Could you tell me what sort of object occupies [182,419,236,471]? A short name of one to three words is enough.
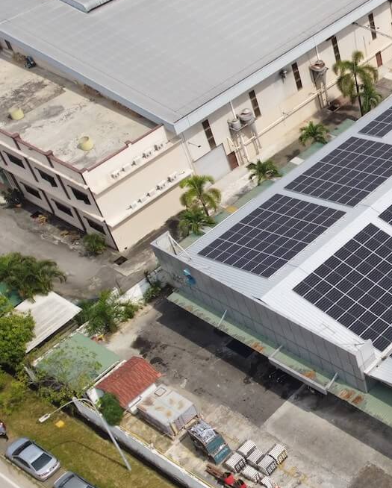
truck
